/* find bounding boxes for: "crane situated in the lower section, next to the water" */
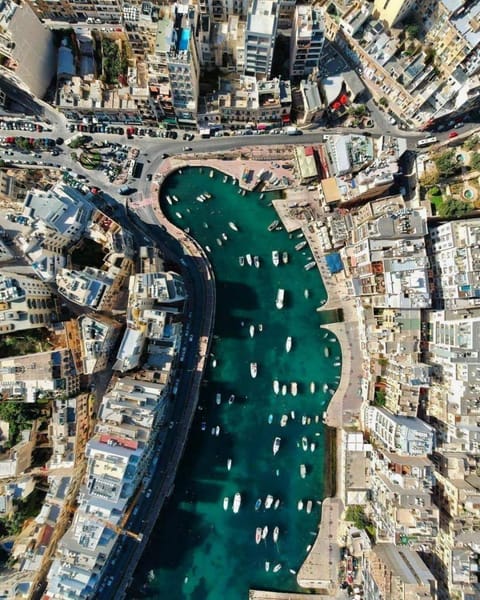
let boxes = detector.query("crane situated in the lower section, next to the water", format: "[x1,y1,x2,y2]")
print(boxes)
[70,485,148,543]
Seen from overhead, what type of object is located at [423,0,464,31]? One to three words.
building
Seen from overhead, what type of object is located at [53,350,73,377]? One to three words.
house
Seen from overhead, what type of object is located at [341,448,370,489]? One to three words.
house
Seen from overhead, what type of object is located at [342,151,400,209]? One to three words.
building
